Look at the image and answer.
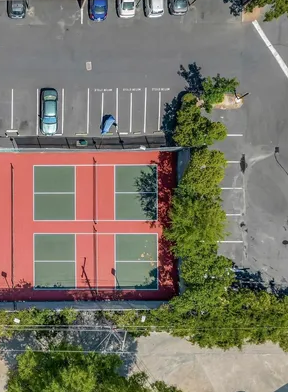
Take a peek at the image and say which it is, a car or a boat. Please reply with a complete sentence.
It is a car that can be seen here.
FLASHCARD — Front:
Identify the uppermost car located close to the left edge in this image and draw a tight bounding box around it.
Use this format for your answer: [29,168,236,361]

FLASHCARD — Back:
[9,0,25,18]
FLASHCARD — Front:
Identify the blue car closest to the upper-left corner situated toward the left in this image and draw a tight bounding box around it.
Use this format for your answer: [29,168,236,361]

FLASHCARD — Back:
[88,0,106,20]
